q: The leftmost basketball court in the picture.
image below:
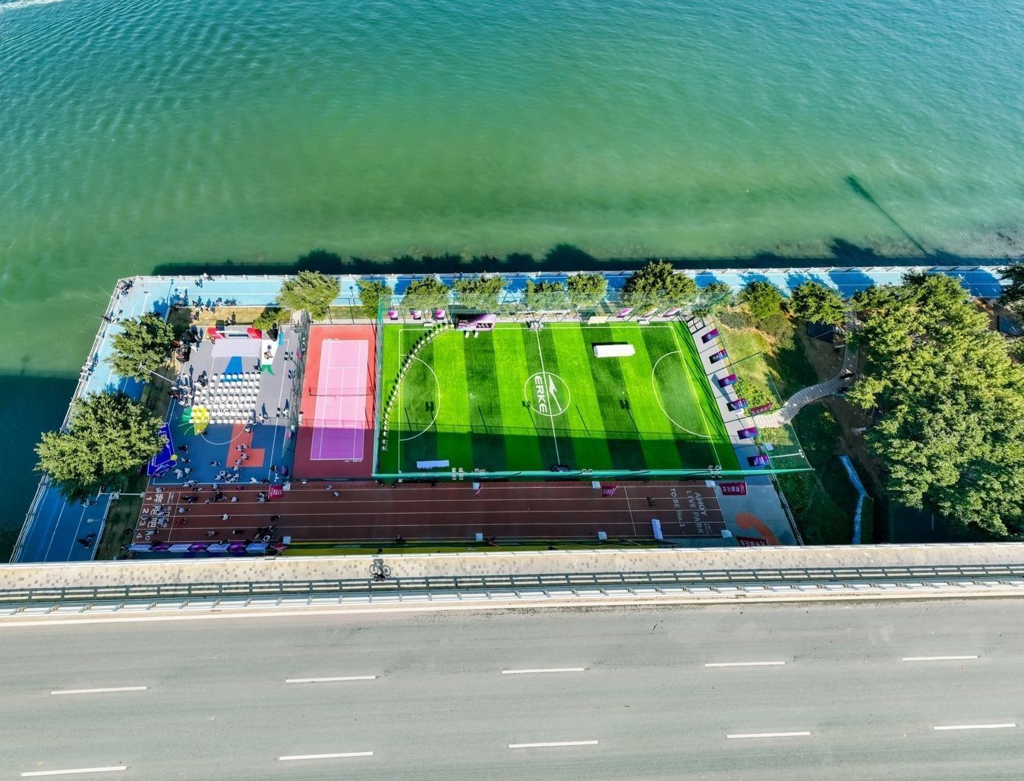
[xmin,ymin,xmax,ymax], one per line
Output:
[148,333,309,494]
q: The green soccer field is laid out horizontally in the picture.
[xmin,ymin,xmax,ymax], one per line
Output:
[376,329,745,490]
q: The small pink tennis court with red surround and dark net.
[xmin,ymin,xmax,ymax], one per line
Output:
[293,333,376,486]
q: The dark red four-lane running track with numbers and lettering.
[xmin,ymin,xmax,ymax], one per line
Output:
[131,486,728,551]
